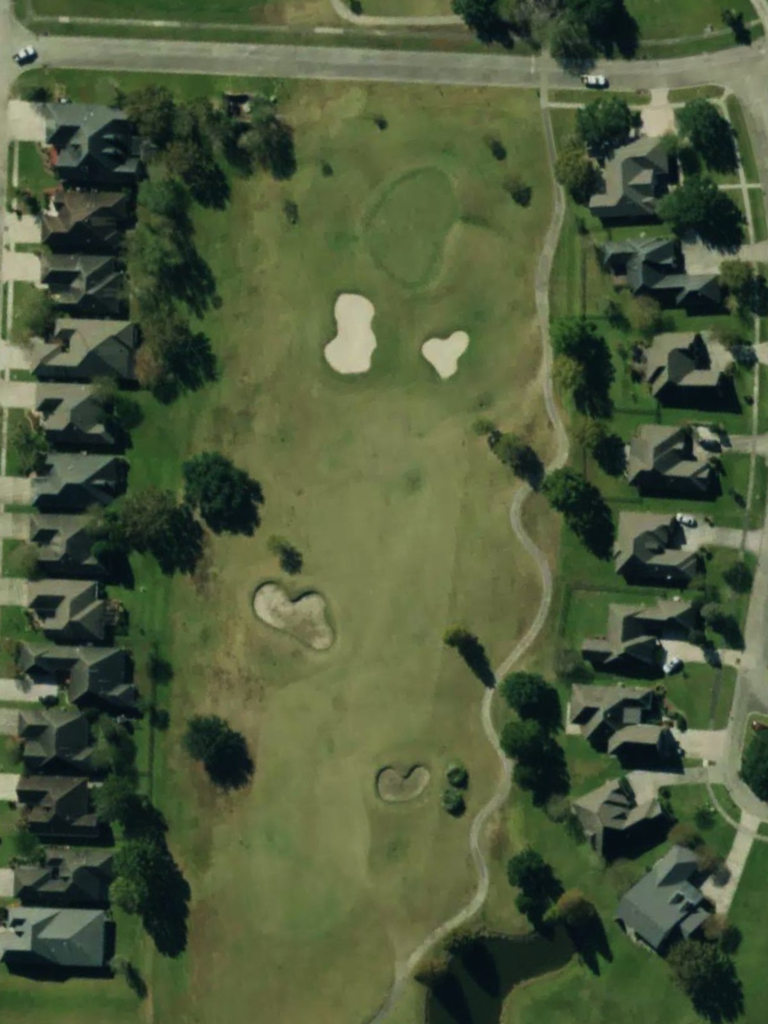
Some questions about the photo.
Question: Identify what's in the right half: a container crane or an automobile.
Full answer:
The feature located in the right half is an automobile.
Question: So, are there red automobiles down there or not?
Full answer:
No, the frame has no red automobile in it.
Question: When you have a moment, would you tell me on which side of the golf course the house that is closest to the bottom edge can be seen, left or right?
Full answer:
Looking at the picture, you'll find the house that is closest to the bottom edge to the left of the golf course.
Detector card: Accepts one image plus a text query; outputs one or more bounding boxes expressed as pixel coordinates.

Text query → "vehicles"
[677,511,697,527]
[661,655,681,673]
[11,46,36,64]
[698,427,719,443]
[582,75,607,85]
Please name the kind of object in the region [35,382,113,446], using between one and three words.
house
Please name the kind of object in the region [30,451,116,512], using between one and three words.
house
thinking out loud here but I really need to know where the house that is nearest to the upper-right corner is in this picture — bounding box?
[589,135,669,219]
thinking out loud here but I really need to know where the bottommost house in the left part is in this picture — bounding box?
[0,908,104,974]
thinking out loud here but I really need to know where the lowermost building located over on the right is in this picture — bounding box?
[609,844,721,955]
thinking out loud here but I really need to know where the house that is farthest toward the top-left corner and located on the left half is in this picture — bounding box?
[45,103,137,185]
